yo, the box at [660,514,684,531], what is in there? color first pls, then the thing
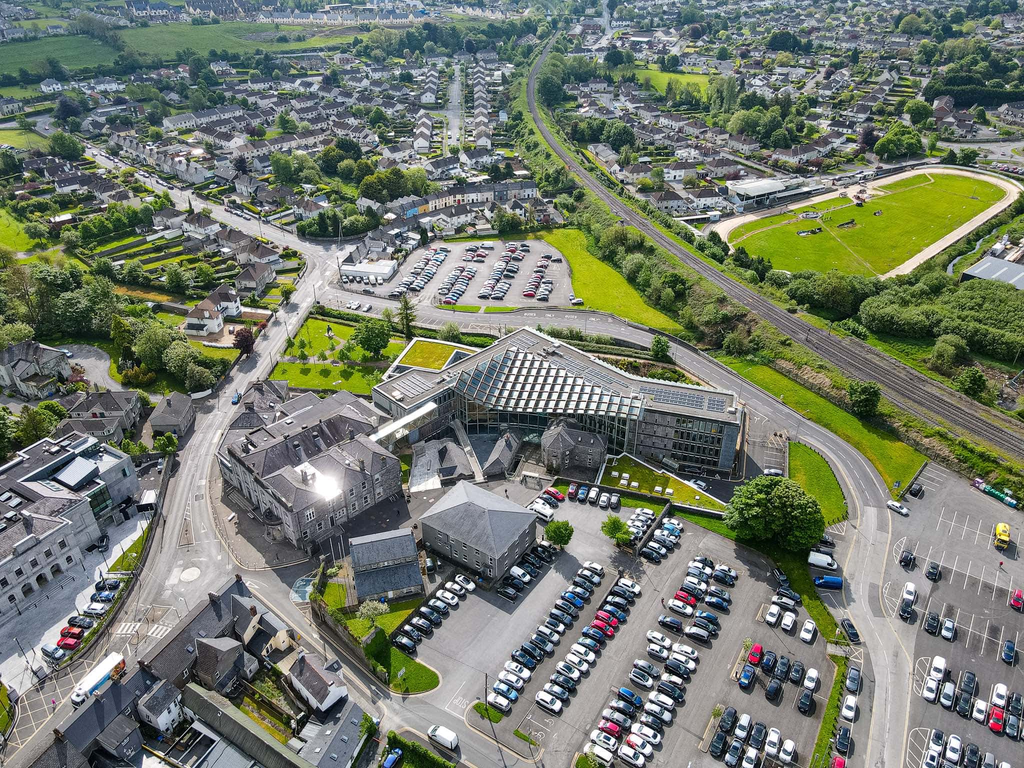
white car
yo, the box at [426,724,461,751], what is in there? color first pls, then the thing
white vehicle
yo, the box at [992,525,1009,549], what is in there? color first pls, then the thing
yellow vehicle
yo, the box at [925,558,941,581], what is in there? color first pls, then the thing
gray car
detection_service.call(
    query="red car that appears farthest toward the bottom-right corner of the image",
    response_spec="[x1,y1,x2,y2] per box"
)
[987,706,1005,734]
